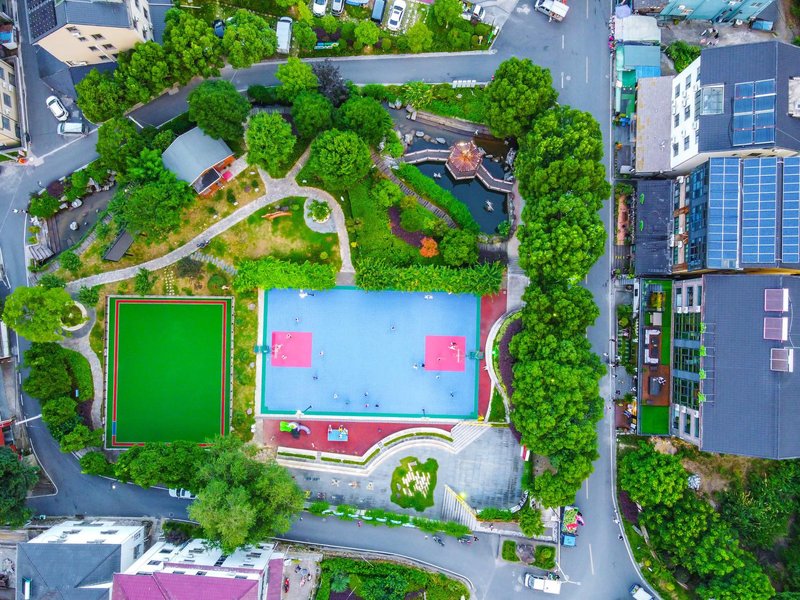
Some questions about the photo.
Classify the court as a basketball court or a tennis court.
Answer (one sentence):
What you see as the court is a basketball court.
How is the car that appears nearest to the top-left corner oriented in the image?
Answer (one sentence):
I'd say the car that appears nearest to the top-left corner is aligned at an angle in the picture.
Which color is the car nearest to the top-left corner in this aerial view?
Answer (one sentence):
The color of the car nearest to the top-left corner is white.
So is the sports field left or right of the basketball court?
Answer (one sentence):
The sports field is to the left of the basketball court.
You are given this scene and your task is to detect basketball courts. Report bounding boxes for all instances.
[254,285,483,424]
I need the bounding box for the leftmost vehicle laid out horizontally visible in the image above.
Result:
[57,121,91,137]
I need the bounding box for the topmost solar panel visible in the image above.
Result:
[30,0,59,37]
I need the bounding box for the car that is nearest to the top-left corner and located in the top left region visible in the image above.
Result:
[45,95,73,122]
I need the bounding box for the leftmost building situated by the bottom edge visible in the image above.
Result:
[16,523,145,600]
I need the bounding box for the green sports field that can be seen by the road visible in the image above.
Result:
[105,297,233,448]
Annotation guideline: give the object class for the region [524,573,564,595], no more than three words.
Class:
truck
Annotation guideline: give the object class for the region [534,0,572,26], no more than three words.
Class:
truck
